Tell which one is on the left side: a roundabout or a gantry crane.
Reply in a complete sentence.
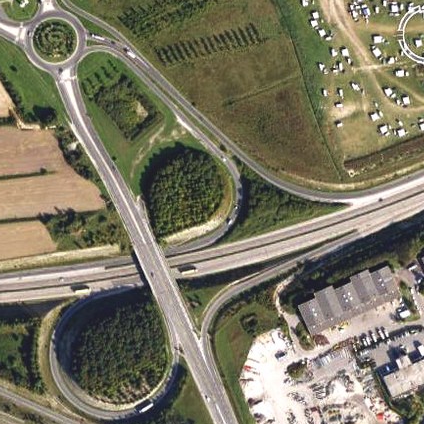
The one visible on the left side is a roundabout.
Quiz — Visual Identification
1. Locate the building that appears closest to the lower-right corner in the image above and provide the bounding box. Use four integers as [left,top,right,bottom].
[385,345,424,399]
